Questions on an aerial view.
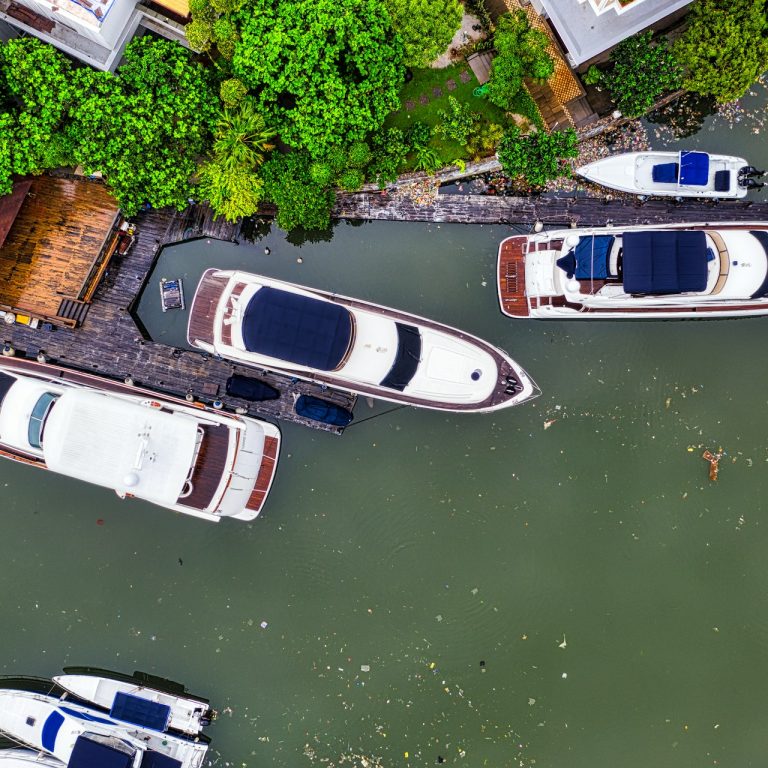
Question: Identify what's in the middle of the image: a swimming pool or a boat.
boat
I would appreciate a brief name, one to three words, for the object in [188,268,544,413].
boat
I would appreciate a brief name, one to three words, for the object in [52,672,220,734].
boat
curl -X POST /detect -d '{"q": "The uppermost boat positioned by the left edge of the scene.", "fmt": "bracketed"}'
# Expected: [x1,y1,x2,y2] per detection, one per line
[0,353,283,521]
